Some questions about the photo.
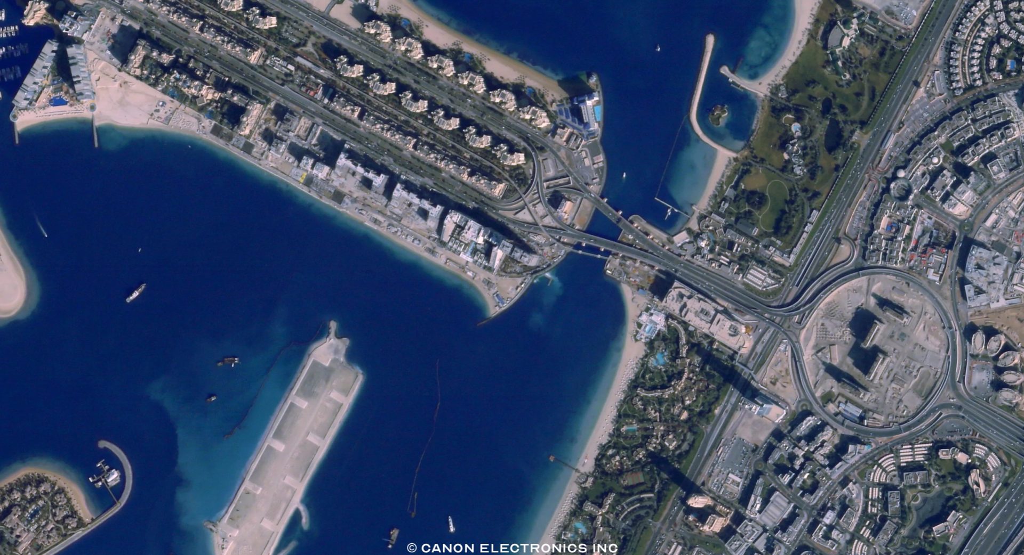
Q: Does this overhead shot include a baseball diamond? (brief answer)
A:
No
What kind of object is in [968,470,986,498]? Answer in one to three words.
building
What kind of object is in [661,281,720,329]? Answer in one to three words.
building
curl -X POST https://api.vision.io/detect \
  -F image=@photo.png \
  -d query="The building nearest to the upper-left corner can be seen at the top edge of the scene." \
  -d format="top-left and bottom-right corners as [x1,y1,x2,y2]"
[23,0,54,28]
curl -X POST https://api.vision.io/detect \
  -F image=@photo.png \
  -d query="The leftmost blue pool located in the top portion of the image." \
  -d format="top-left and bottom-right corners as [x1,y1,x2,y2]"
[48,95,69,107]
